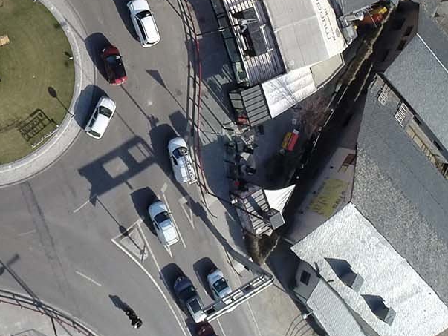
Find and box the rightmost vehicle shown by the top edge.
[127,0,159,48]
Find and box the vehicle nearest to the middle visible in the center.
[166,136,197,189]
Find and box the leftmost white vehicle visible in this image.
[83,94,117,142]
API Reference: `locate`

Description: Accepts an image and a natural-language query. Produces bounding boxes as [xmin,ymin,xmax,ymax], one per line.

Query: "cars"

[170,270,210,327]
[166,136,197,189]
[186,315,213,336]
[127,0,159,48]
[99,43,129,88]
[202,263,234,306]
[147,198,180,250]
[83,94,117,142]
